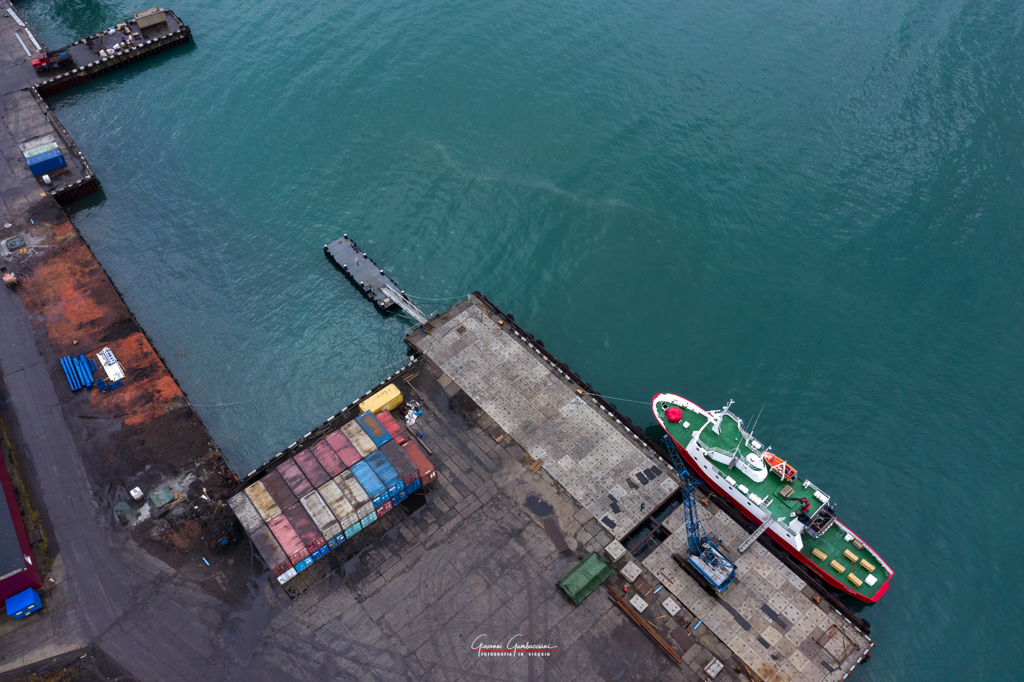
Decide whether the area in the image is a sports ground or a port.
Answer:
port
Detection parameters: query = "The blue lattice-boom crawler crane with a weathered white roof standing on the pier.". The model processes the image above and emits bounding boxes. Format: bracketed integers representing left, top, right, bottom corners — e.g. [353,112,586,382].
[645,433,737,598]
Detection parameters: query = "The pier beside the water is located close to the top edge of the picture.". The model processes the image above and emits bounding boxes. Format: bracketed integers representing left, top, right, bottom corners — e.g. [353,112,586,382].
[34,12,189,99]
